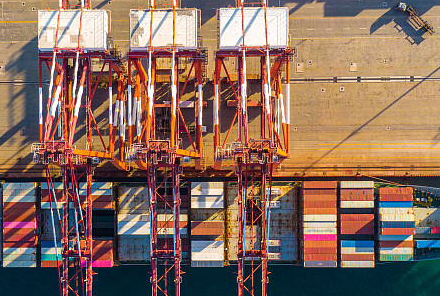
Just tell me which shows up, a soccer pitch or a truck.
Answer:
truck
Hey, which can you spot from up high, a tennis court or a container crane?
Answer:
container crane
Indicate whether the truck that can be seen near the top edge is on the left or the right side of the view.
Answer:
right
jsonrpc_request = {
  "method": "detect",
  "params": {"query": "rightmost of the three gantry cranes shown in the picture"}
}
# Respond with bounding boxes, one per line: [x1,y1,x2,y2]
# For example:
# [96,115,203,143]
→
[202,0,300,296]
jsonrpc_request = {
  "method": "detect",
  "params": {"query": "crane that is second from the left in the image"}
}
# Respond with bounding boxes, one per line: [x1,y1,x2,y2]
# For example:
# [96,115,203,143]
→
[124,0,213,296]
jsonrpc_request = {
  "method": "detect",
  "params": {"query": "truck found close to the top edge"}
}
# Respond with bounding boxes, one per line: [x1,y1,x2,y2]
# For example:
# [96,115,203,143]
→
[399,1,437,34]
